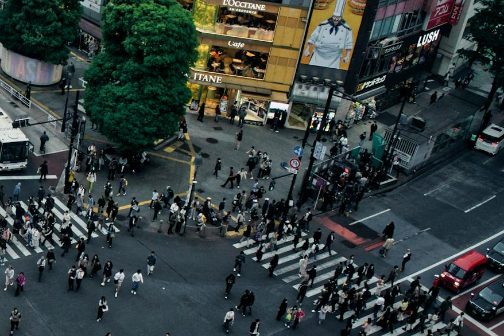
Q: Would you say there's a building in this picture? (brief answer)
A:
Yes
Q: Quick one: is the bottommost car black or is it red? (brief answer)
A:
black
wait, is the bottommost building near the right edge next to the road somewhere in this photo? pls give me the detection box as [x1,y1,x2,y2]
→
[375,84,499,165]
